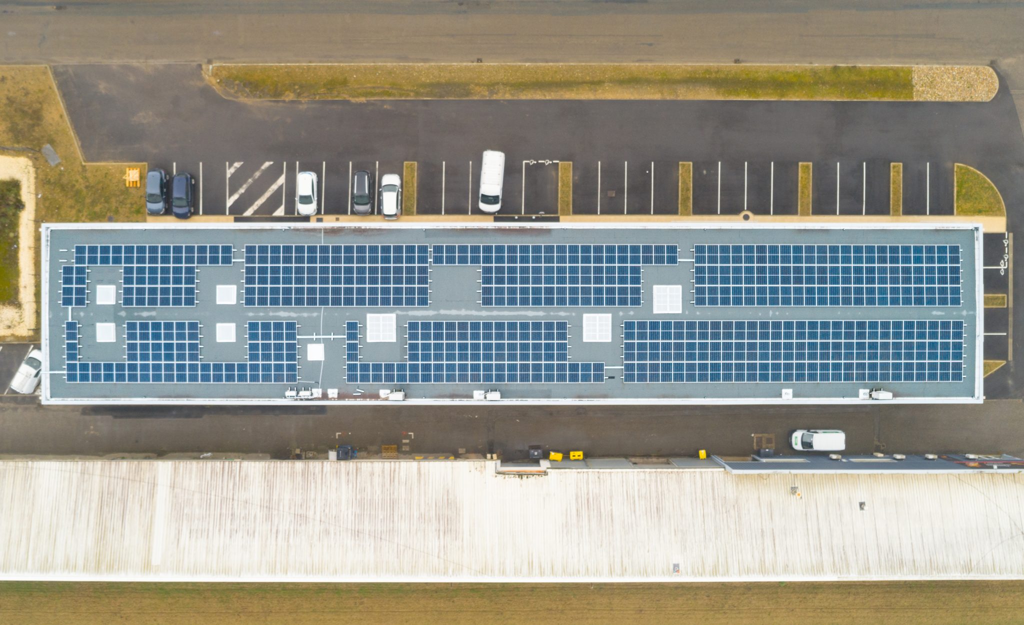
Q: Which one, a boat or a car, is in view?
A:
car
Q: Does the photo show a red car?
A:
No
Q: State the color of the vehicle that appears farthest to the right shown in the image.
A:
white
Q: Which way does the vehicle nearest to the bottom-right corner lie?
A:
horizontally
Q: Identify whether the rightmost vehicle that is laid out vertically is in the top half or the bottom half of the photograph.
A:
top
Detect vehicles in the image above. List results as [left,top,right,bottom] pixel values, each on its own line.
[11,347,41,393]
[350,169,374,217]
[787,427,848,451]
[143,168,170,215]
[168,171,196,221]
[378,173,401,220]
[476,150,502,213]
[295,171,319,216]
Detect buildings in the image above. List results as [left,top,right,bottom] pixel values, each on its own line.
[0,451,1024,581]
[41,223,984,404]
